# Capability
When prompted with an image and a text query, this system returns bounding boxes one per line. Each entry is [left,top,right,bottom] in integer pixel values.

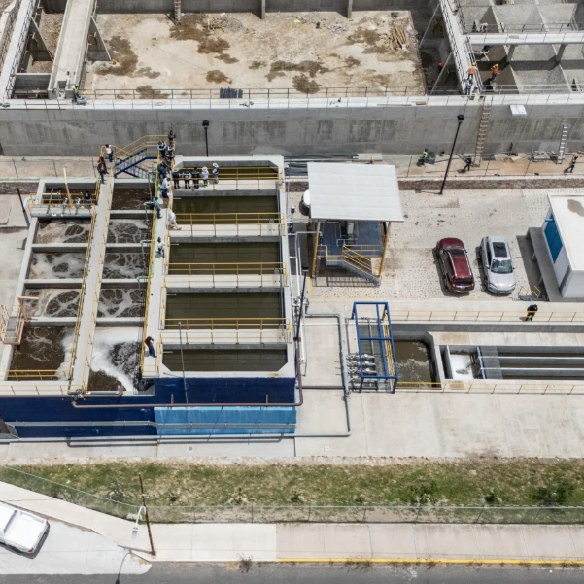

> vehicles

[481,236,524,296]
[0,507,48,560]
[438,238,478,298]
